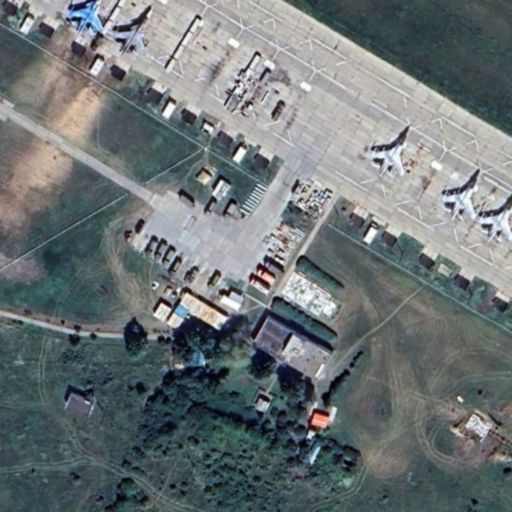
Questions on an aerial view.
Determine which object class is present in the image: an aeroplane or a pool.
aeroplane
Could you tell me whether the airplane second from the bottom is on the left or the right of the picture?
right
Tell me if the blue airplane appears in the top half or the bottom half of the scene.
top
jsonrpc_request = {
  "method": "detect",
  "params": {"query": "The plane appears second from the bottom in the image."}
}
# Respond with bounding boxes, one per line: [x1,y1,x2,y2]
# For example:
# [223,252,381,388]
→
[443,170,483,225]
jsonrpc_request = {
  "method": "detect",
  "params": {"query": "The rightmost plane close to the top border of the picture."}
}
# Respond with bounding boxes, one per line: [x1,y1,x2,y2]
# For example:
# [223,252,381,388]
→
[113,9,153,63]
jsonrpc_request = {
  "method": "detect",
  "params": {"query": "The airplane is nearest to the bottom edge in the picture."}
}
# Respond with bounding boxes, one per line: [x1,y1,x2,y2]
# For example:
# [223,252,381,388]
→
[479,203,512,247]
